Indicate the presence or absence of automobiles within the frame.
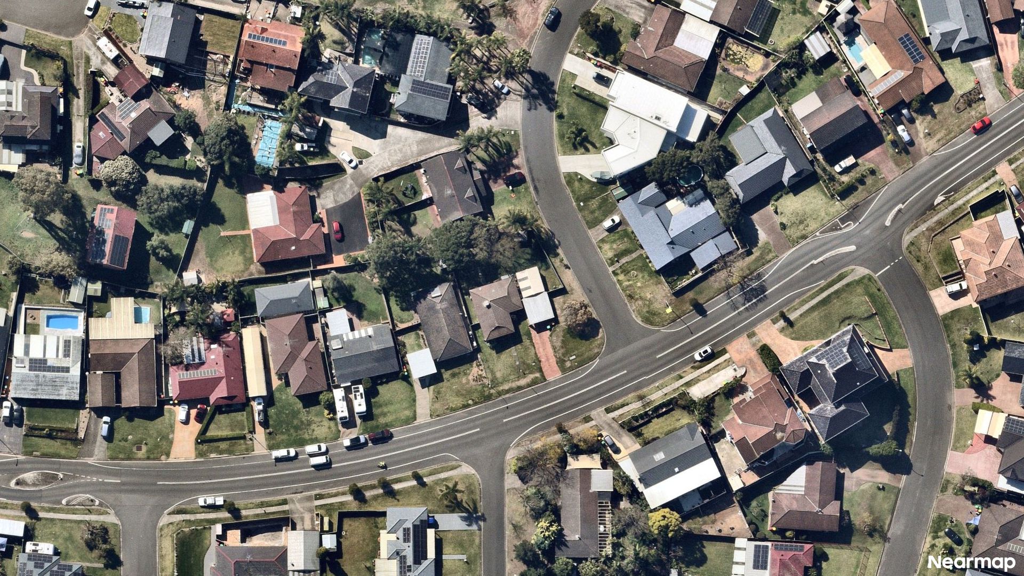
Yes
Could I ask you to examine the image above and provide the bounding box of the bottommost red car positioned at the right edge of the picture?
[970,118,991,133]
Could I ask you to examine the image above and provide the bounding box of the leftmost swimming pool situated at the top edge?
[362,28,384,66]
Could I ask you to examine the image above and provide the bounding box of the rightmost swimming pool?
[845,40,864,63]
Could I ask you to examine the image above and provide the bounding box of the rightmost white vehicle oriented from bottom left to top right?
[833,155,857,173]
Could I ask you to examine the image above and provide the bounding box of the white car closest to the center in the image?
[602,216,622,230]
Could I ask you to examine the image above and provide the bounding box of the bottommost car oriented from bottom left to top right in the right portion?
[694,345,715,361]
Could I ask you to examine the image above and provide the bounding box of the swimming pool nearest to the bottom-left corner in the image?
[45,314,79,329]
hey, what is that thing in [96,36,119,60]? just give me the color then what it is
white camper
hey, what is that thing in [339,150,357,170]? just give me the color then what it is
white car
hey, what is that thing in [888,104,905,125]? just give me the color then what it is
black car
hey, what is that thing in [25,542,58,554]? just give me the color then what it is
white vehicle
